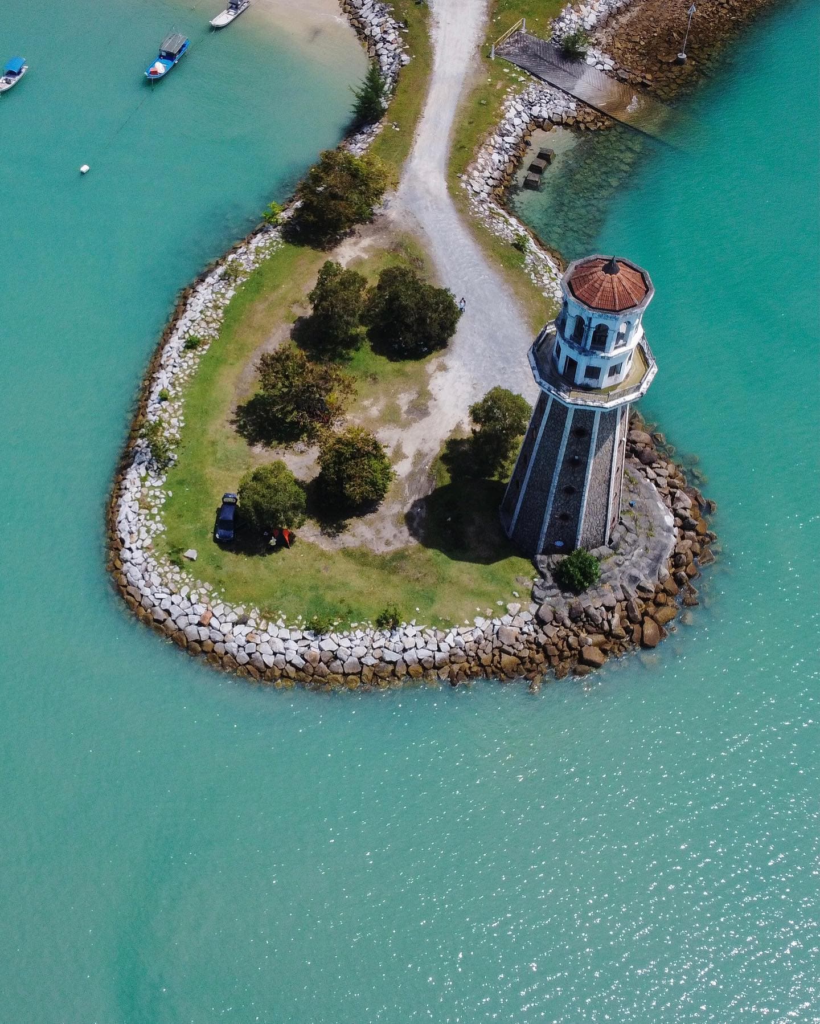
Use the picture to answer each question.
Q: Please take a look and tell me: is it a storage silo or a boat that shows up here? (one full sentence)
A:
Of the two, only a boat appears.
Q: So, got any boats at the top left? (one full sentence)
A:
Yes, the scene does show a boat at the top left.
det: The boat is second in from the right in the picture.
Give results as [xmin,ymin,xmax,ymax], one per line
[146,20,196,79]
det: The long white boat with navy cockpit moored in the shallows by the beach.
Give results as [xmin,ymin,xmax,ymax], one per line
[210,0,255,27]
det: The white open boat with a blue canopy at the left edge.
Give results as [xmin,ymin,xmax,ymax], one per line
[0,54,32,92]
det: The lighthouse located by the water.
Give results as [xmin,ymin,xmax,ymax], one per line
[505,255,657,554]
